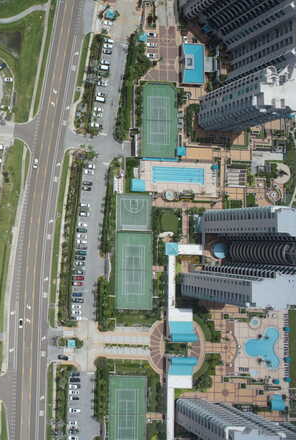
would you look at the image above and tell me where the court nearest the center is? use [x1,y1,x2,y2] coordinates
[115,194,152,231]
